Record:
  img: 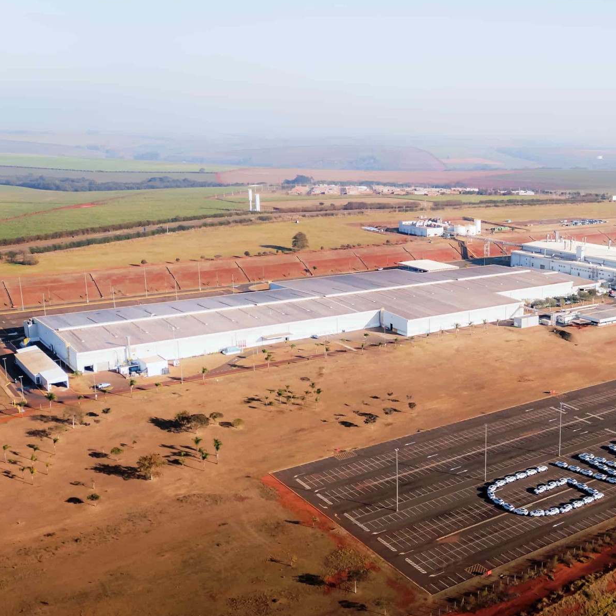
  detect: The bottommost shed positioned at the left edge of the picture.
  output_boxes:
[14,346,70,392]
